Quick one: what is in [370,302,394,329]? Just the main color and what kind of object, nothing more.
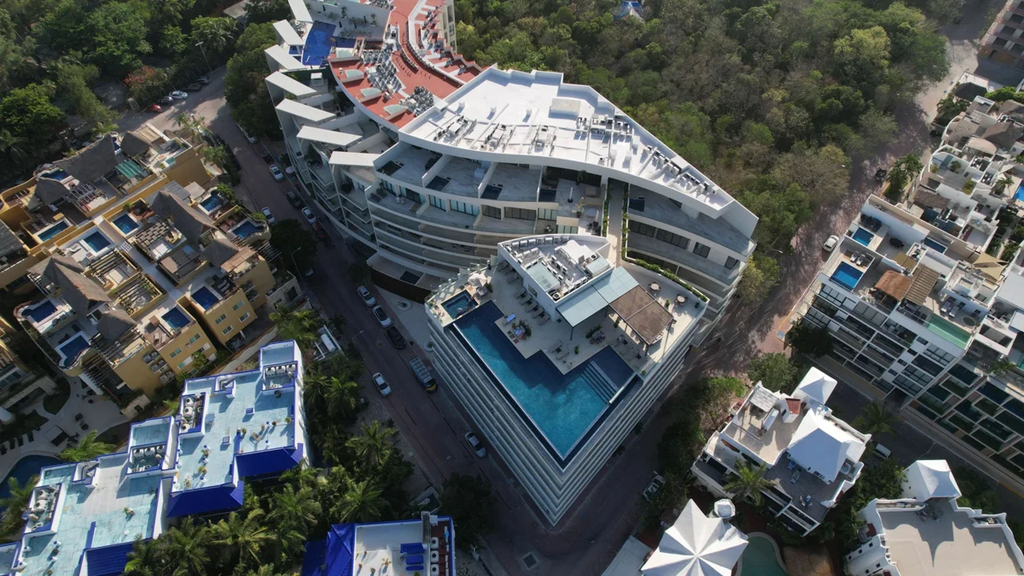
black car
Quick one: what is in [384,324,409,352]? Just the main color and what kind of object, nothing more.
black car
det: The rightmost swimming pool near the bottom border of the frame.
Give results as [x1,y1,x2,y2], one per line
[733,526,789,576]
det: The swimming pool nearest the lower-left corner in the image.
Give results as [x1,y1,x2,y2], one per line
[0,448,68,525]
